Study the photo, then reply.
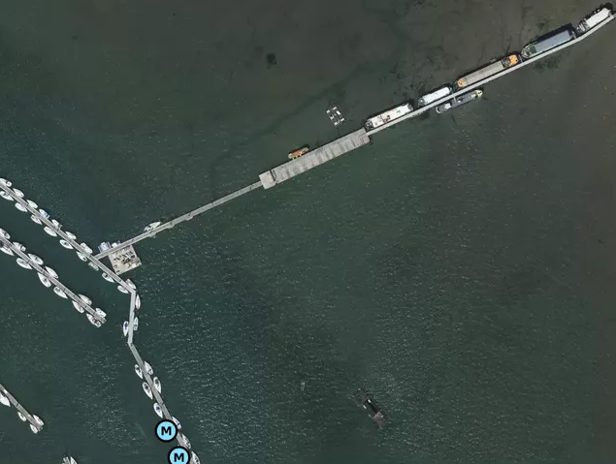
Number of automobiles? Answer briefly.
zero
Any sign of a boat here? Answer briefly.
Yes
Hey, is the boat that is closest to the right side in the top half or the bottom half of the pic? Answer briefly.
top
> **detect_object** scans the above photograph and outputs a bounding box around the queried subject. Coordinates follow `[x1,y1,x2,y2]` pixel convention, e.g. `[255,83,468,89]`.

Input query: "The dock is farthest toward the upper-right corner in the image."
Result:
[366,14,616,136]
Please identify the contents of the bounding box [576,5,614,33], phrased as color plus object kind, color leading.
white boat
